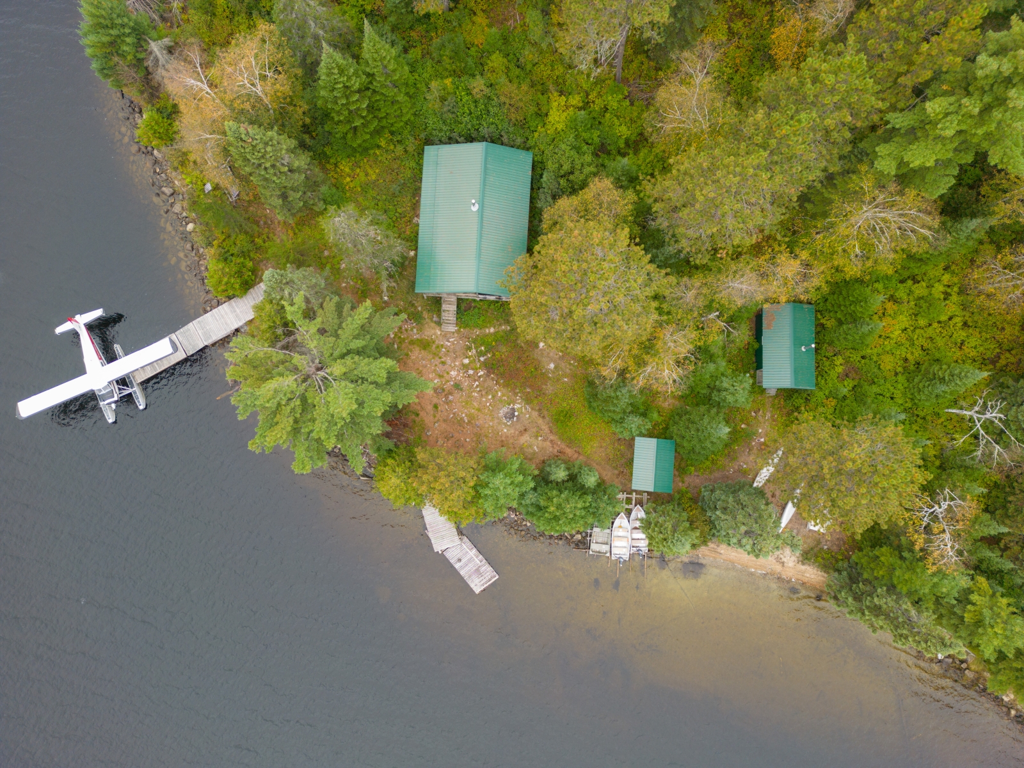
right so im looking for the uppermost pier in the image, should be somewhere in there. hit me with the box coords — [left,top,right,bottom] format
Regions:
[132,294,260,384]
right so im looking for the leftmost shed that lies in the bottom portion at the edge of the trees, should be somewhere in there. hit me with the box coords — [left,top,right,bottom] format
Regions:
[630,437,675,494]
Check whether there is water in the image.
Yes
